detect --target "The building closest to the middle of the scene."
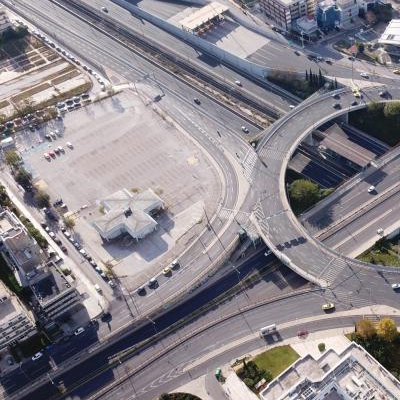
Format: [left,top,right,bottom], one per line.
[95,189,166,245]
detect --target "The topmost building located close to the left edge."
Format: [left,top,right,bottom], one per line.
[0,208,38,249]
